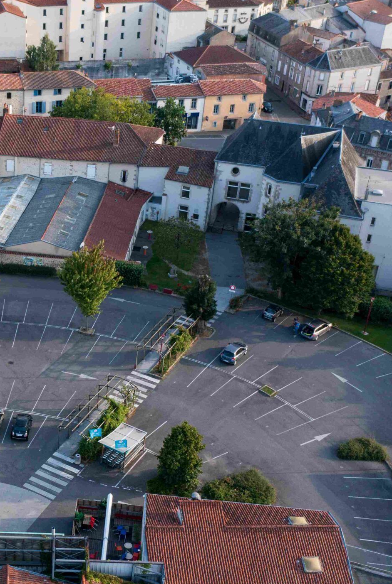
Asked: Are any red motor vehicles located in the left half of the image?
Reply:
No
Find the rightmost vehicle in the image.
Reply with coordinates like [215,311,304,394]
[302,319,338,342]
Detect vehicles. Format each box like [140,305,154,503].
[262,99,272,110]
[12,409,36,437]
[0,405,6,434]
[261,302,289,322]
[223,339,250,363]
[302,319,338,342]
